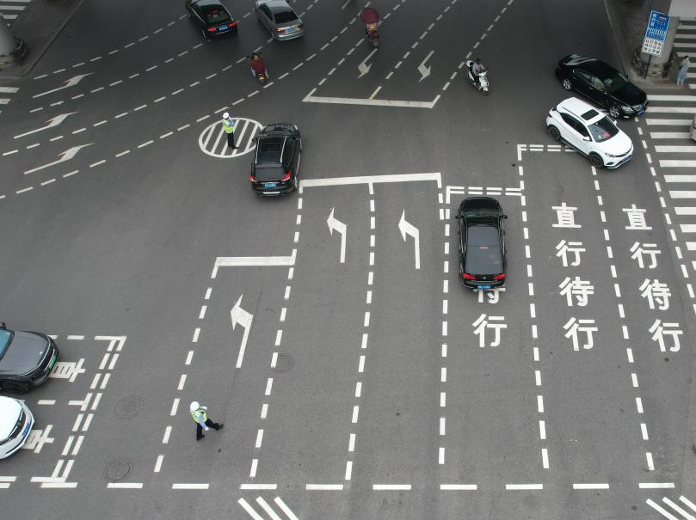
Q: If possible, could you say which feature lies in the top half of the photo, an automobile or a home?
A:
automobile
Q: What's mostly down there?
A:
paved ground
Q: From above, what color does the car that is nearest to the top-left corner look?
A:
black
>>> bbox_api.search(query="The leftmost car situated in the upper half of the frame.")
[182,0,240,43]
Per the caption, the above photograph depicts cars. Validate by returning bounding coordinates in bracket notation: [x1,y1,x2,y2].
[555,52,653,119]
[454,193,514,289]
[0,395,35,456]
[253,0,309,42]
[248,121,304,200]
[0,323,59,393]
[545,97,638,169]
[182,0,240,43]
